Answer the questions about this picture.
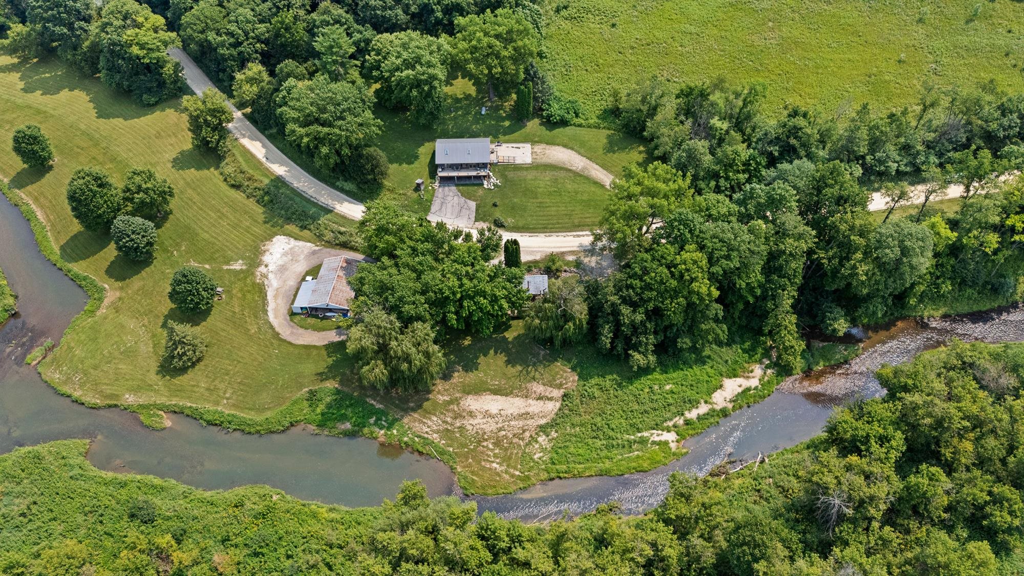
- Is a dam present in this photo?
No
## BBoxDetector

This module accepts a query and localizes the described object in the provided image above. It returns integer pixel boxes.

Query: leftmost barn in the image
[291,255,363,319]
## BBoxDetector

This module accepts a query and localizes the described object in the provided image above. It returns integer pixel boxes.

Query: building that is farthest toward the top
[435,139,490,184]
